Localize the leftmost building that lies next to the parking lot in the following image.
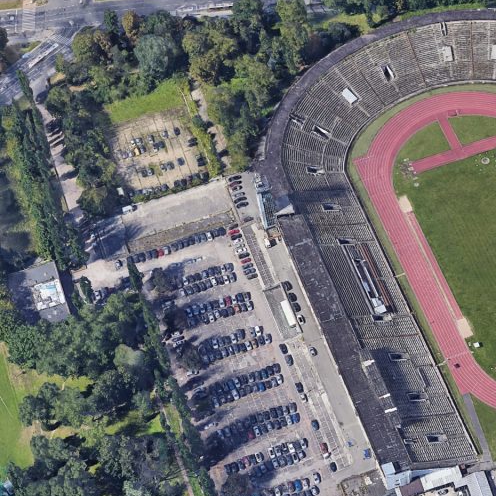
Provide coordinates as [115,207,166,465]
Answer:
[10,261,68,329]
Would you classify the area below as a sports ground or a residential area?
sports ground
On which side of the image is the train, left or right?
left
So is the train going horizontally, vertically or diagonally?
diagonally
